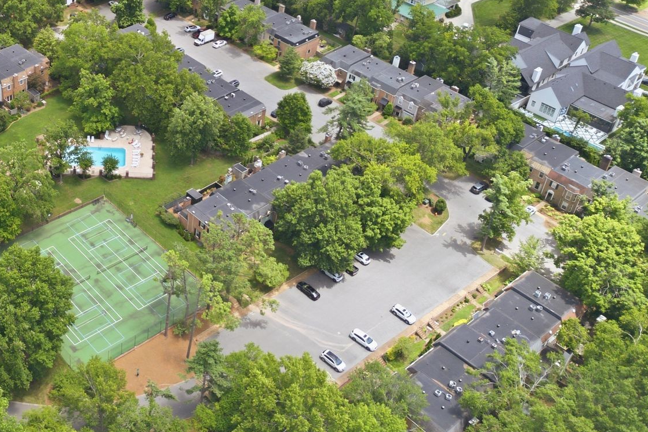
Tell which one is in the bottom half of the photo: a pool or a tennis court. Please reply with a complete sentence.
It is a tennis court that can be seen in the bottom half of the photo.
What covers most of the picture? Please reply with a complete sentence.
The scene is dominated by trees.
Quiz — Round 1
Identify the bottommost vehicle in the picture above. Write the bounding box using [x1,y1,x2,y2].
[319,349,347,373]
